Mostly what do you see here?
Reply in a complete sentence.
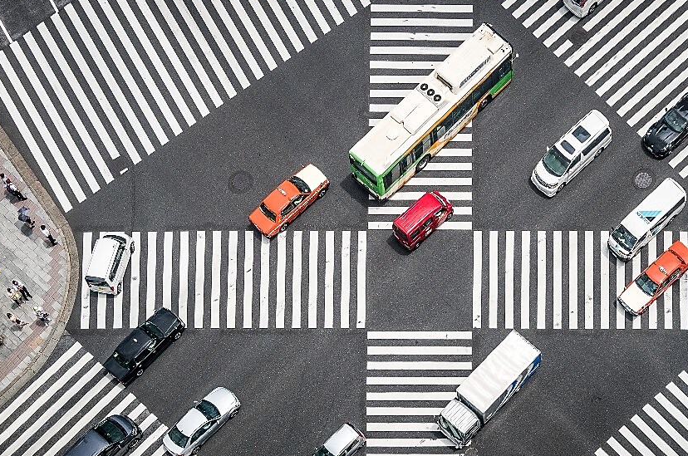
The bulk of the photo consists of paved ground.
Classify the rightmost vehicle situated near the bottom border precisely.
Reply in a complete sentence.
I'd say the rightmost vehicle situated near the bottom border is a truck.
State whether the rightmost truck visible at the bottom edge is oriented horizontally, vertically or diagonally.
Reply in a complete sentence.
What the image shows is the rightmost truck visible at the bottom edge lying diagonally.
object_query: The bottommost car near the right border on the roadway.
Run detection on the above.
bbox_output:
[616,240,688,319]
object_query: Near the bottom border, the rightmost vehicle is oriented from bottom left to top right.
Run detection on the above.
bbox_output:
[430,328,541,452]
